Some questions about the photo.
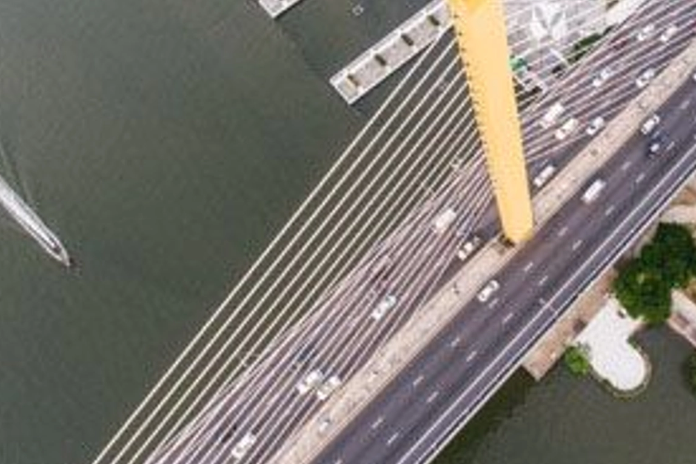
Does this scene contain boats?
Yes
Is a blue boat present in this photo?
No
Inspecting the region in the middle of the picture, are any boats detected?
No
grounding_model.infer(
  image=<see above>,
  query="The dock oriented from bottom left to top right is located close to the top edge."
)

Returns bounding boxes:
[330,8,450,105]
